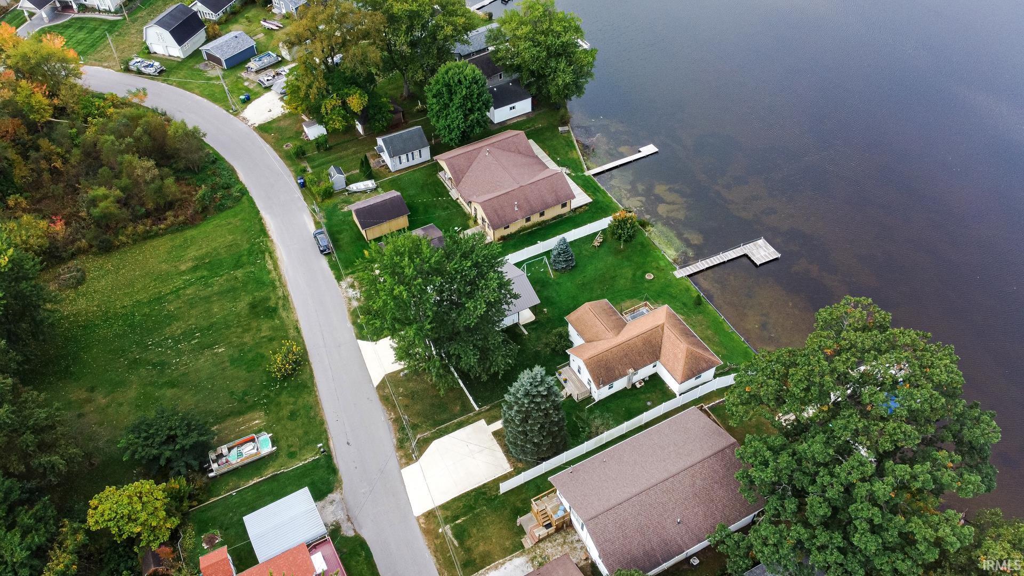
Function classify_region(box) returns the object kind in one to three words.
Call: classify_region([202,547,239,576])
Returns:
shed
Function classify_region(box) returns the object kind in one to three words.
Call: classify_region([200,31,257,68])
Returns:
building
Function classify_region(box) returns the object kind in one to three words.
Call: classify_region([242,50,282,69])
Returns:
boat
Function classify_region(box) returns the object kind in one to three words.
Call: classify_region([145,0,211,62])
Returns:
barn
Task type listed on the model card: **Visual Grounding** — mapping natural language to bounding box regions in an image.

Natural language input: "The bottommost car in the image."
[311,229,333,255]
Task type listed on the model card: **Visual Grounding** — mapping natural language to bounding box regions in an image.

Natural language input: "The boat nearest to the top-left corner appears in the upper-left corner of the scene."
[127,52,163,70]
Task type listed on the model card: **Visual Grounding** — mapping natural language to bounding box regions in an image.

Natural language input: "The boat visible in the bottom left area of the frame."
[202,436,276,479]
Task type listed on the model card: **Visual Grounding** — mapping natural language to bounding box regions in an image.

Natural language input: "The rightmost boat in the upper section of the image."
[342,176,378,192]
